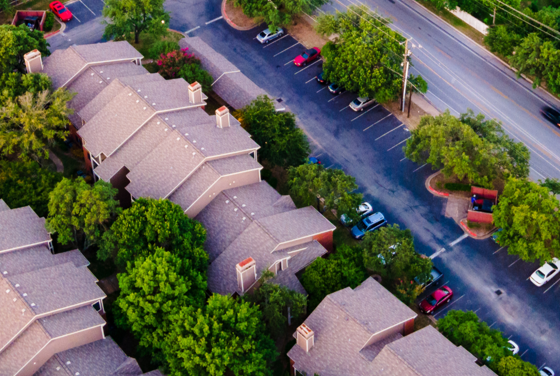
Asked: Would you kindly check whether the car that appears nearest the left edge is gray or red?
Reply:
red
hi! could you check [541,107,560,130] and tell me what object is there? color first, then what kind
black car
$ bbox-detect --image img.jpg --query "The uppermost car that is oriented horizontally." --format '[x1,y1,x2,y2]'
[256,28,284,42]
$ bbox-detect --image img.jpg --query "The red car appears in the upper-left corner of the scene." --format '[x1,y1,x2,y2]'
[47,0,74,21]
